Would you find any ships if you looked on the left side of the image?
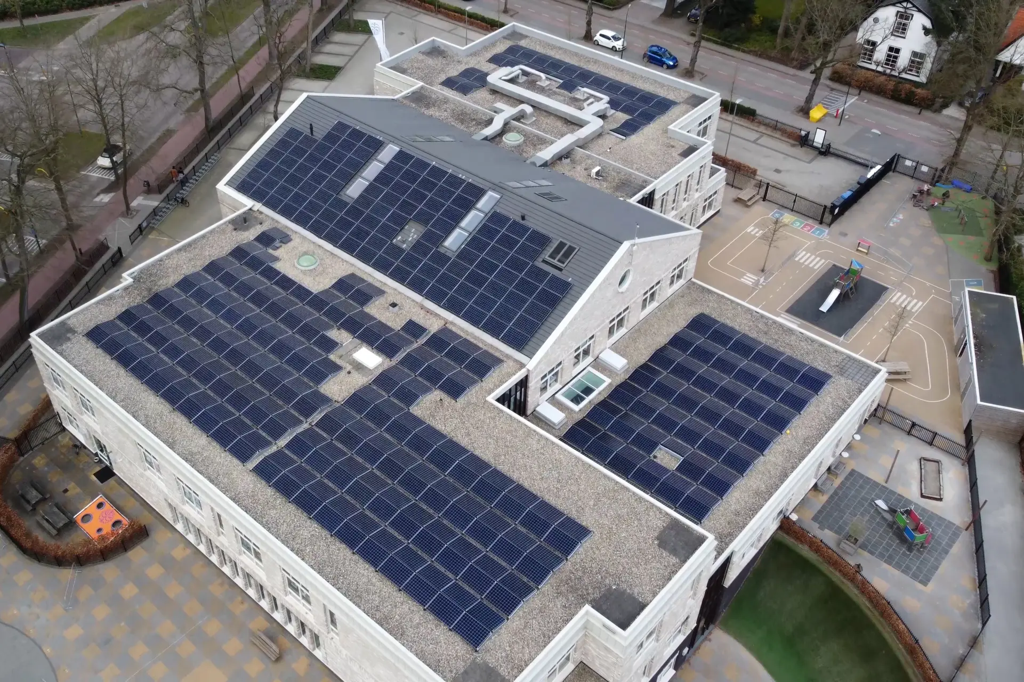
No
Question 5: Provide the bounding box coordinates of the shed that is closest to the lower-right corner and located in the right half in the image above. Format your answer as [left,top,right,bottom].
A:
[954,288,1024,444]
